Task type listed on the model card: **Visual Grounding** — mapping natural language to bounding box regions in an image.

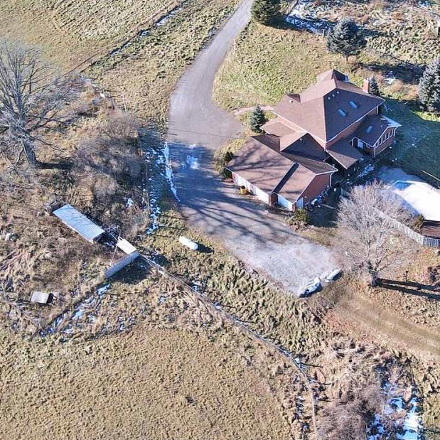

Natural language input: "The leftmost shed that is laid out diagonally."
[52,202,106,246]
